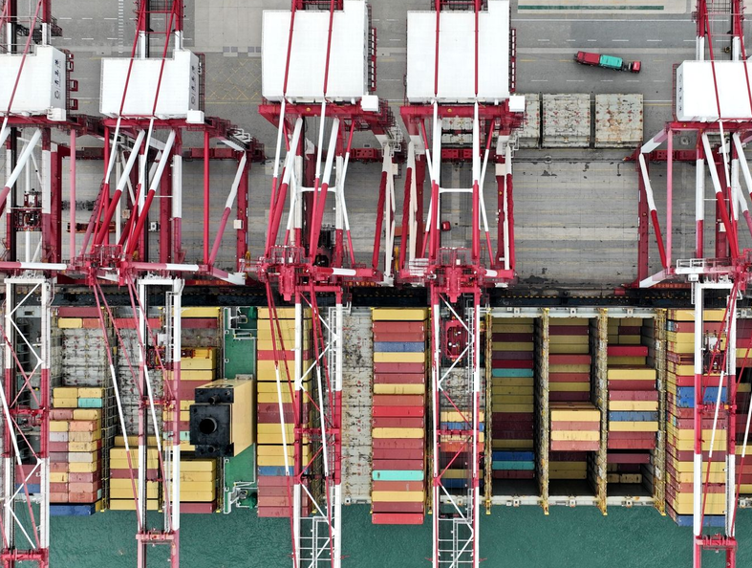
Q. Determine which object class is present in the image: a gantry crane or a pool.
gantry crane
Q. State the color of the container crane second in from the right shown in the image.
white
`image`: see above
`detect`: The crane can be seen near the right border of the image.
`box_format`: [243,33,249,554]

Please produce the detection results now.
[619,0,752,568]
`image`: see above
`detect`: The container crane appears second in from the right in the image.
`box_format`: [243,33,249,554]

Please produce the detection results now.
[401,0,527,568]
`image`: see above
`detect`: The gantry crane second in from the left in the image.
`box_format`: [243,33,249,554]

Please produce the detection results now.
[84,0,270,568]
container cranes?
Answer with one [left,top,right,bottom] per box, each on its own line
[84,0,270,568]
[401,0,527,568]
[0,0,163,568]
[619,0,752,568]
[261,0,397,568]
